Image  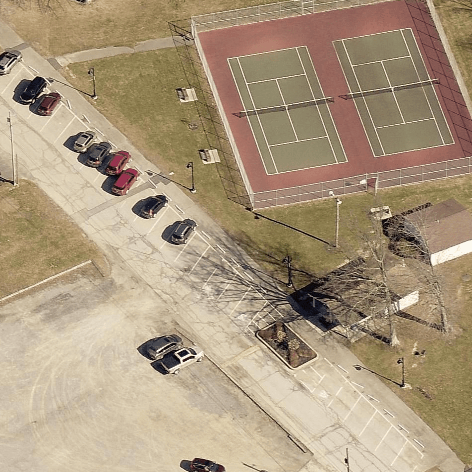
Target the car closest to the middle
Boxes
[169,222,196,248]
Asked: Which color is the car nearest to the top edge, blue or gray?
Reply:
gray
